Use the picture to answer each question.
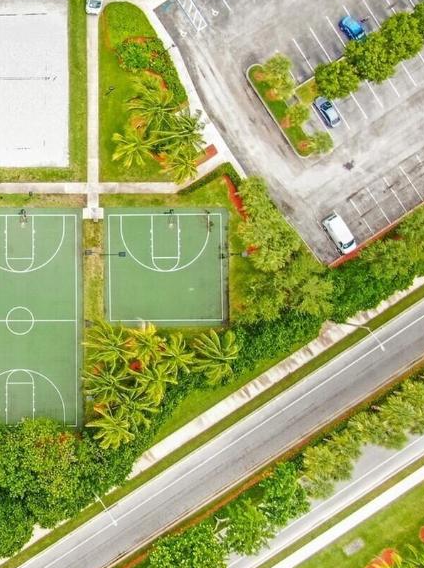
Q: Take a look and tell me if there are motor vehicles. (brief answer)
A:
Yes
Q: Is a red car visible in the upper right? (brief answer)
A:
No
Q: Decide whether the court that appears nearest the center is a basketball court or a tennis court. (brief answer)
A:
basketball court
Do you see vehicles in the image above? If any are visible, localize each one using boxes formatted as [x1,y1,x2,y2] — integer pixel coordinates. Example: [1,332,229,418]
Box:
[337,11,365,42]
[321,213,354,251]
[86,0,102,13]
[312,96,341,130]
